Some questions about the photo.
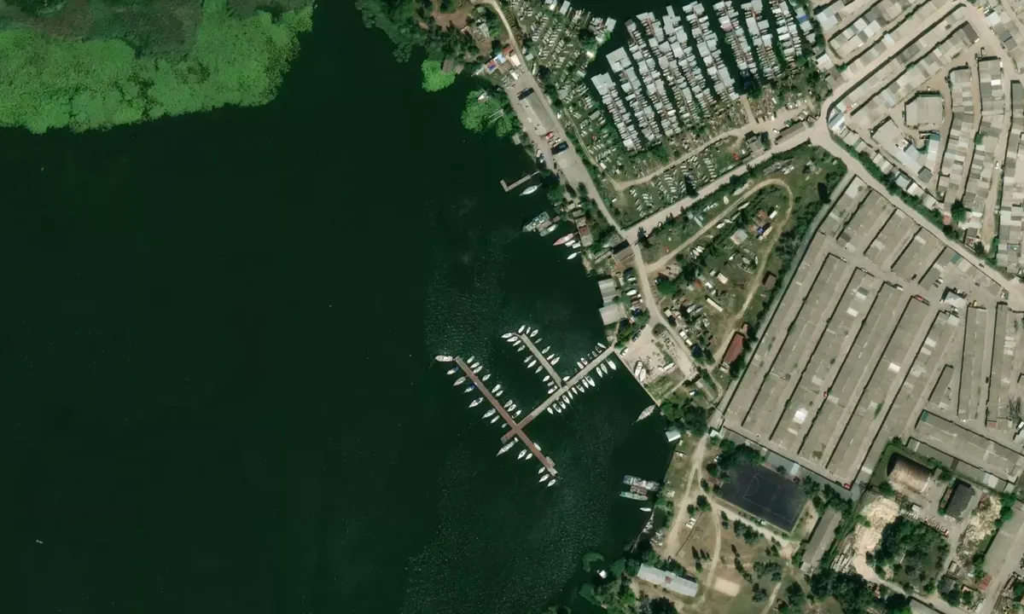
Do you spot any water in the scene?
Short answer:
Yes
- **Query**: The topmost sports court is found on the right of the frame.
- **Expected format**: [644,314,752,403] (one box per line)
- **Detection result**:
[718,458,810,535]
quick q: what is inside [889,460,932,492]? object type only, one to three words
hangar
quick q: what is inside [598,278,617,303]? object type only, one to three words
building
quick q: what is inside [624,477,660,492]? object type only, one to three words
ship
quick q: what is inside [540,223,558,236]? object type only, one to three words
boat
